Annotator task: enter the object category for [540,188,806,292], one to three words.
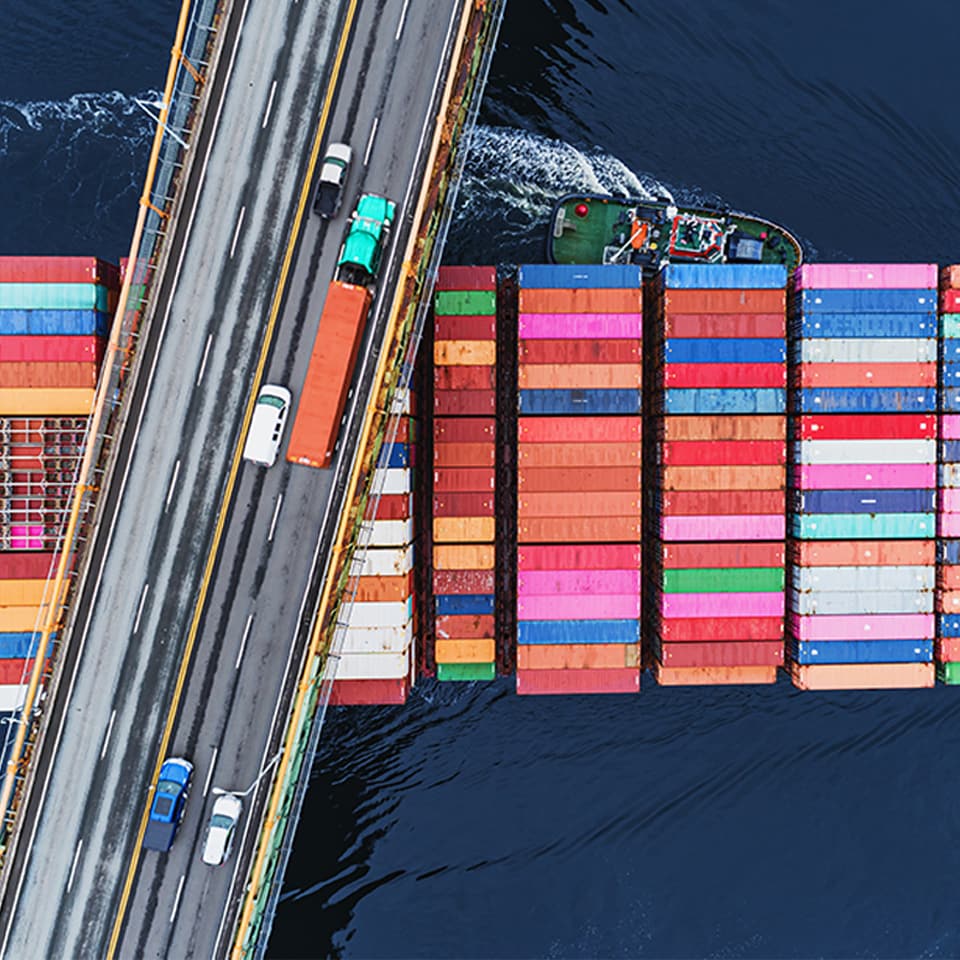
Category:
boat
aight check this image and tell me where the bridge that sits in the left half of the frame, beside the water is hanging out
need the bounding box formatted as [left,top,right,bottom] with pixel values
[0,0,511,960]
